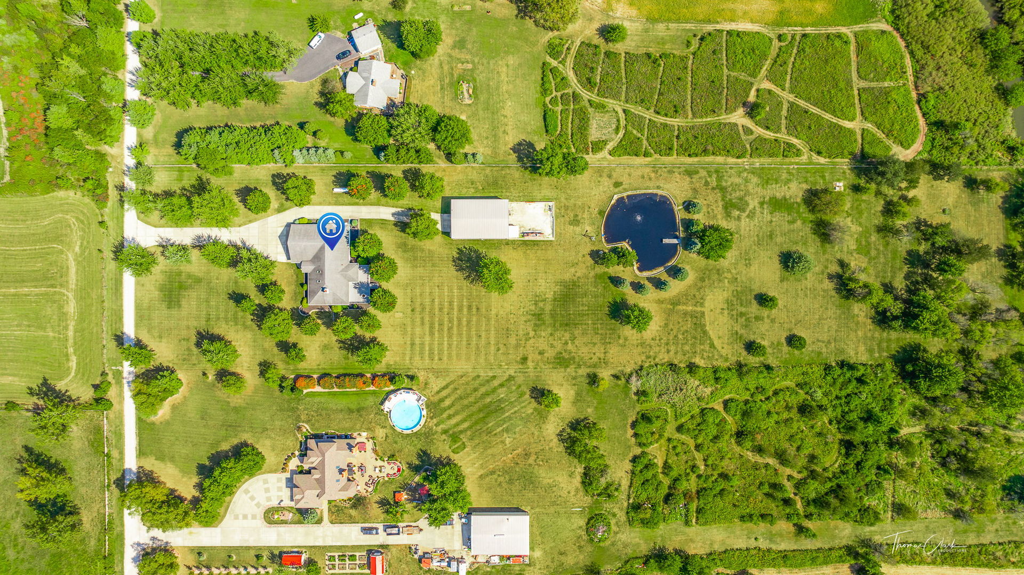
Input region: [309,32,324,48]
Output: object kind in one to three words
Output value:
vehicle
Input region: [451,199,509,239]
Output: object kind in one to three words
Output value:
barn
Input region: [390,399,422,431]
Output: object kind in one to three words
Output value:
swimming pool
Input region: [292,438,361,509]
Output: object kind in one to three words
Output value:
house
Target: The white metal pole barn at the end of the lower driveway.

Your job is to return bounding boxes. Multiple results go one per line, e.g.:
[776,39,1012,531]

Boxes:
[471,512,529,555]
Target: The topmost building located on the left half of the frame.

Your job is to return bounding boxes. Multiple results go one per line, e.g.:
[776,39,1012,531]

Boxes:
[351,23,382,55]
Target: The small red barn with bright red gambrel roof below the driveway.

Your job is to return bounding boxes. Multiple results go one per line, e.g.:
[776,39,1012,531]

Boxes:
[281,549,306,565]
